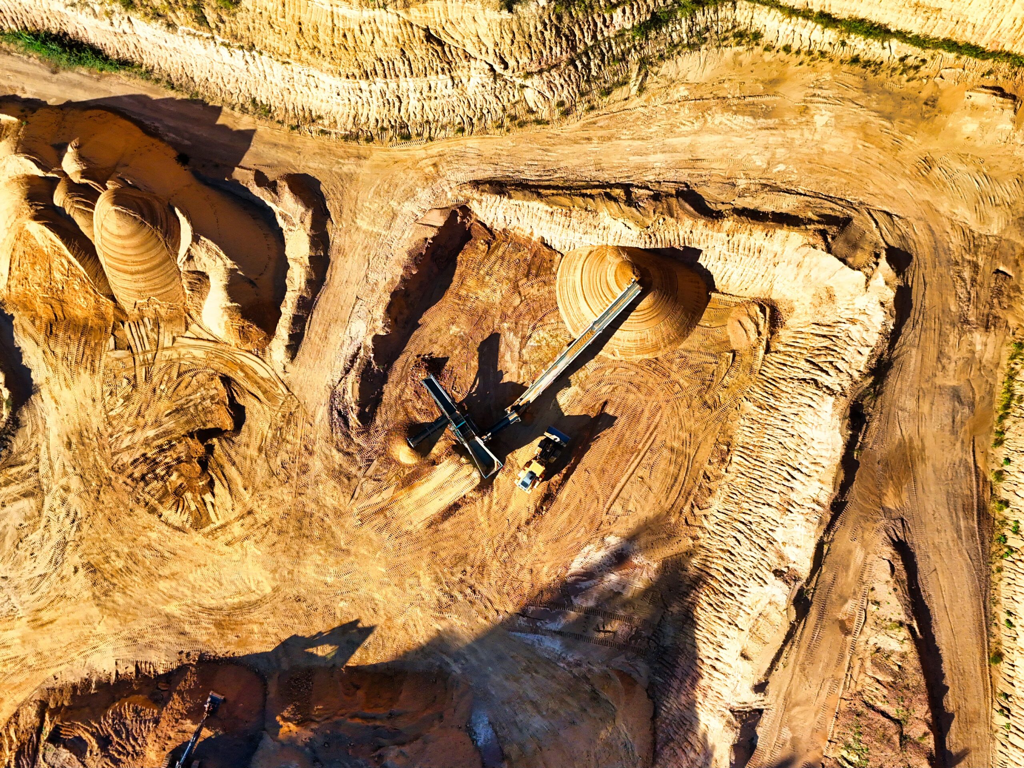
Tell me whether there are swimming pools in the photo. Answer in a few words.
No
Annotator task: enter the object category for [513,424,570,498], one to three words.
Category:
work vehicle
